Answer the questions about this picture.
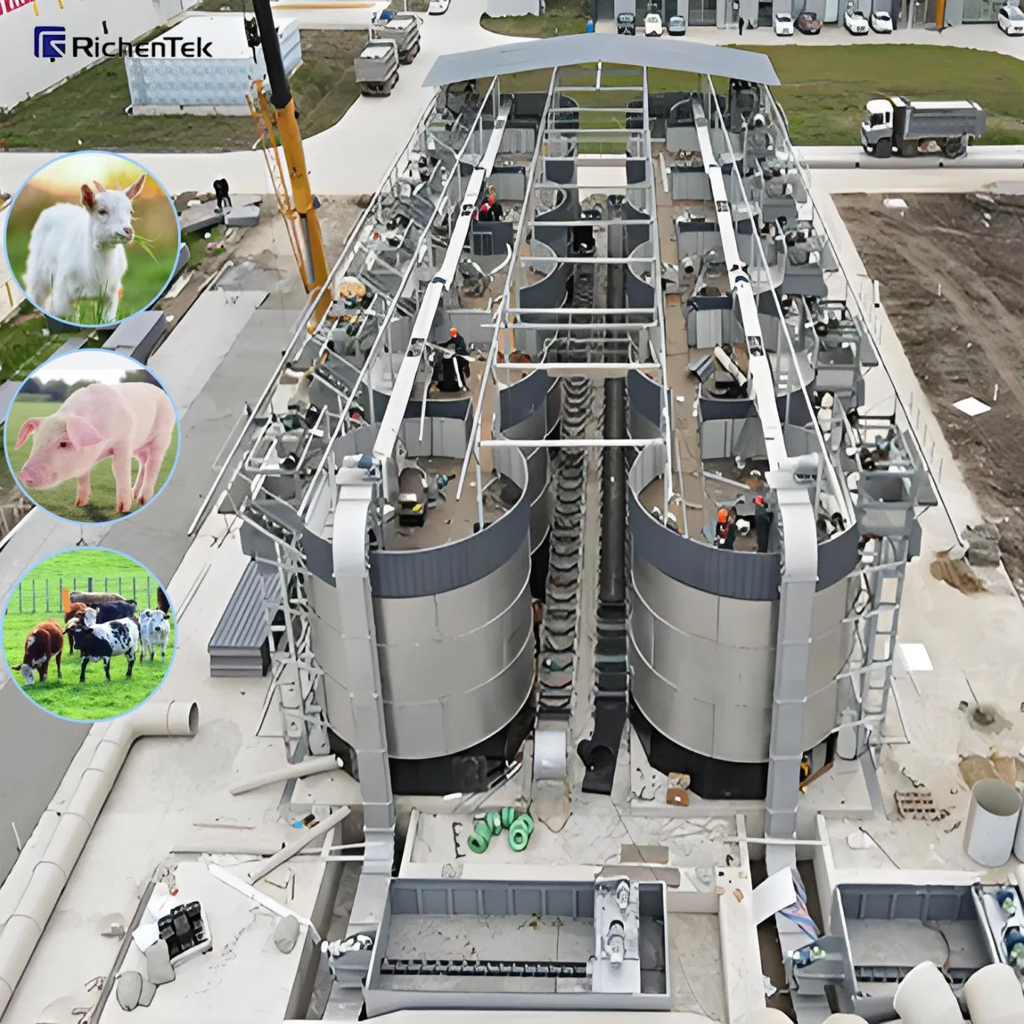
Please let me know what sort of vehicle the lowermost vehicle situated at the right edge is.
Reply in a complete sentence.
The lowermost vehicle situated at the right edge is a truck.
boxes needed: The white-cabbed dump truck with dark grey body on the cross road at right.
[855,97,996,156]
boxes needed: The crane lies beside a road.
[249,0,377,340]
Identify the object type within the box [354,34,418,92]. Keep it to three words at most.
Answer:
truck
